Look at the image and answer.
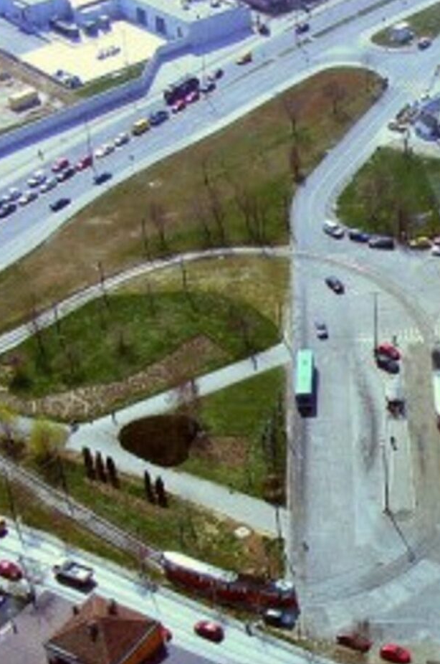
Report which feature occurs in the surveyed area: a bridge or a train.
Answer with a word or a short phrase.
train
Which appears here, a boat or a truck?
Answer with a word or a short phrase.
truck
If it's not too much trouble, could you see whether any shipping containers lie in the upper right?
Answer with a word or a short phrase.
No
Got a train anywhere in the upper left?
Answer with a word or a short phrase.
No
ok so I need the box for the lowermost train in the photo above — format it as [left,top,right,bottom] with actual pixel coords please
[154,548,304,621]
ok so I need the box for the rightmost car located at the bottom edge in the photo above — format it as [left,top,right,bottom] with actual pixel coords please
[375,641,414,664]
